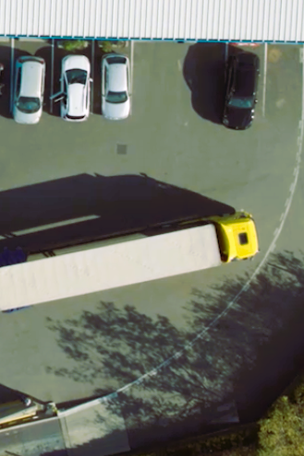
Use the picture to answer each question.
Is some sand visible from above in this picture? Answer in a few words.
No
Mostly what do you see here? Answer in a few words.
paved ground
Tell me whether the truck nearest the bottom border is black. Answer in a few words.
No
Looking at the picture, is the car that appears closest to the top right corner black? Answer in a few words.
Yes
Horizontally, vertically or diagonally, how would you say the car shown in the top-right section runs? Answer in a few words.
vertically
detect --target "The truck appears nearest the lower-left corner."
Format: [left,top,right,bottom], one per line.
[0,213,260,317]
